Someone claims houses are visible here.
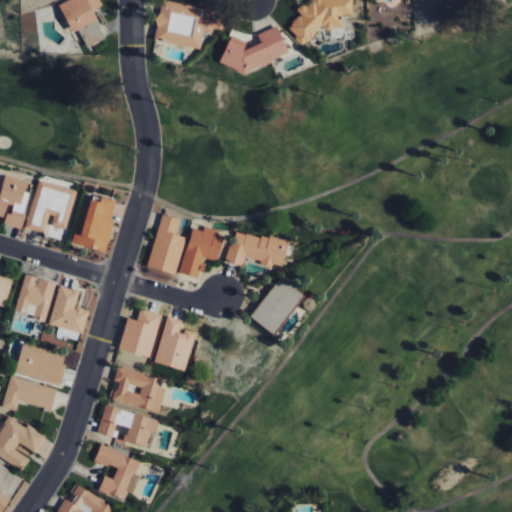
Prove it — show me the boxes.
[119,311,162,358]
[226,232,294,270]
[0,465,24,512]
[0,175,30,229]
[251,285,306,334]
[26,176,78,240]
[60,0,106,50]
[155,1,224,50]
[49,286,89,342]
[60,485,108,512]
[98,405,156,448]
[221,27,288,75]
[112,367,166,413]
[147,215,186,276]
[154,316,197,370]
[72,196,116,254]
[95,444,140,502]
[0,278,13,308]
[16,274,57,323]
[16,344,66,386]
[0,416,45,469]
[179,229,222,278]
[3,376,57,412]
[291,0,352,44]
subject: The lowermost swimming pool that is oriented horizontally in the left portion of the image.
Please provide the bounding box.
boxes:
[172,388,197,402]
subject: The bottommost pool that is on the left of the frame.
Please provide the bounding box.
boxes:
[143,475,159,496]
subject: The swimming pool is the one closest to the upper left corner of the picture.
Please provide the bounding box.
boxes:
[43,22,64,44]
